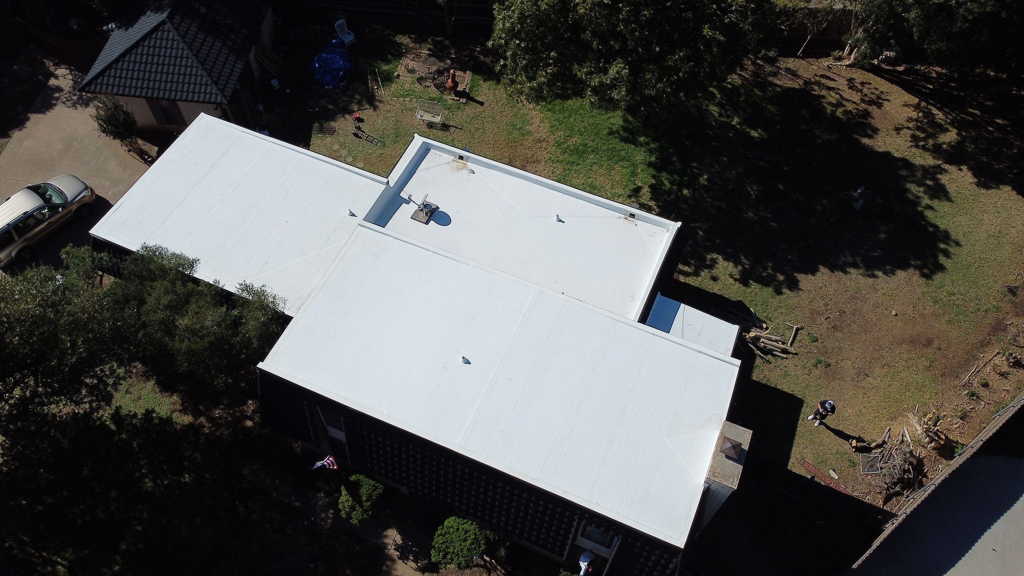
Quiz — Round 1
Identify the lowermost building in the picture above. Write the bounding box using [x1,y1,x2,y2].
[87,113,755,576]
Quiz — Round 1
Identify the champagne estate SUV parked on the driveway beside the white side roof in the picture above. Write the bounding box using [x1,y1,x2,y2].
[0,179,95,268]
